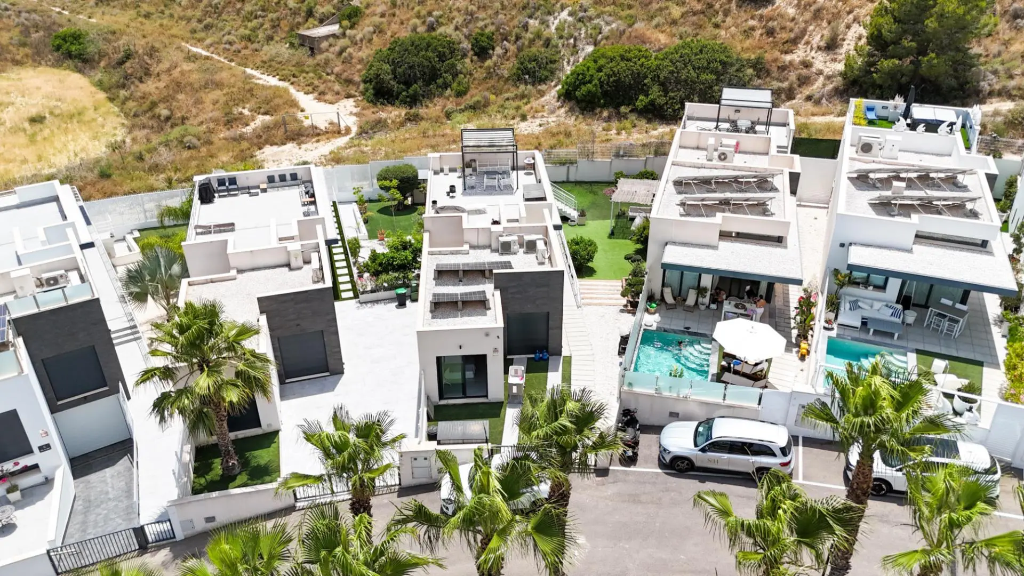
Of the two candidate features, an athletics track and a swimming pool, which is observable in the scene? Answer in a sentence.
Looking from above, you can make out a swimming pool.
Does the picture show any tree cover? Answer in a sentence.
Yes, tree cover shows up in the scene.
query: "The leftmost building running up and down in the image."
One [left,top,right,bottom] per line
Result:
[0,174,134,492]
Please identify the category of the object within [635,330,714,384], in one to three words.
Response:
swimming pool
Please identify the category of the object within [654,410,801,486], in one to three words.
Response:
car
